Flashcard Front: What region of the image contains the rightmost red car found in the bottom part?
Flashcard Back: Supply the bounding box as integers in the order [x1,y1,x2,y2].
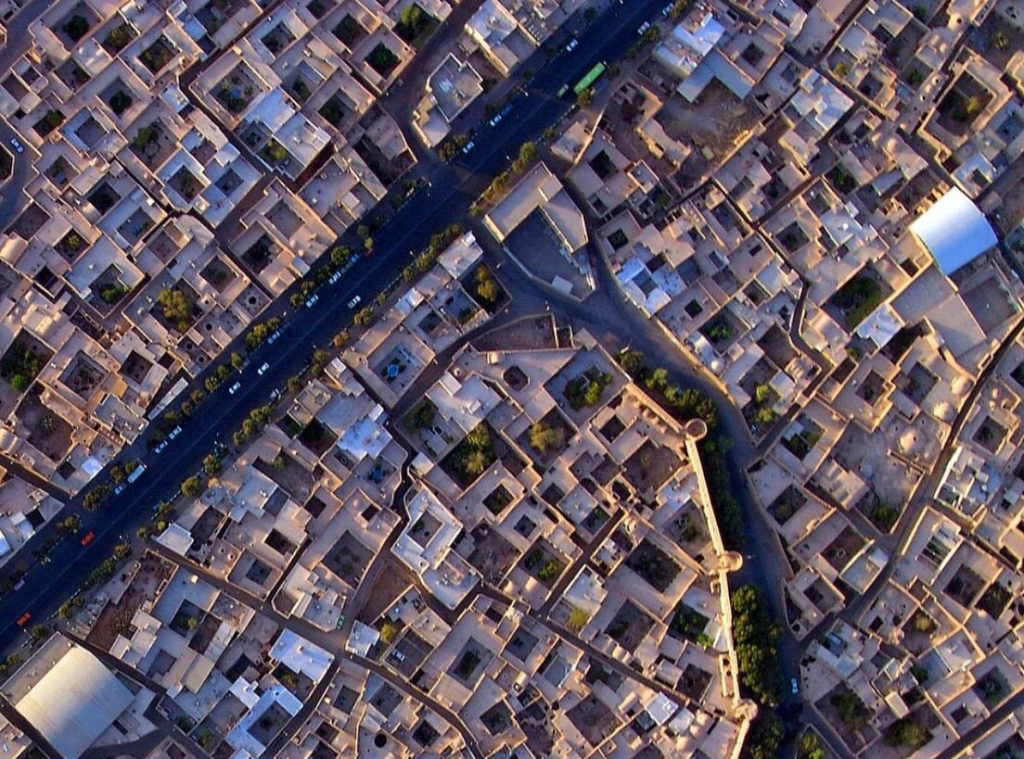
[81,532,95,546]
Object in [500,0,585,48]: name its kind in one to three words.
house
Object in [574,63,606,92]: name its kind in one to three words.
bus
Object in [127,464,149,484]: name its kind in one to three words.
vehicle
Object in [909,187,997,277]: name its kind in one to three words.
shed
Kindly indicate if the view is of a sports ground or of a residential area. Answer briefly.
residential area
